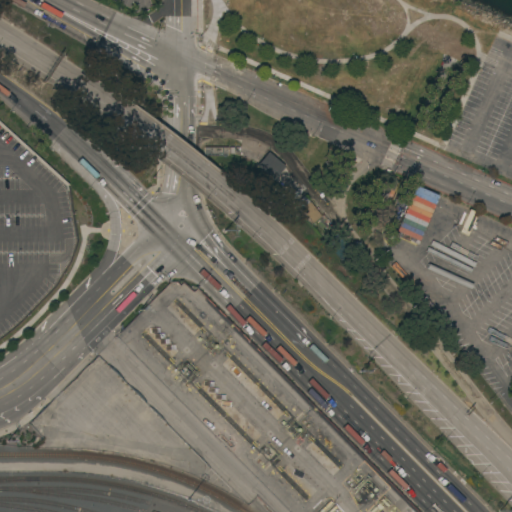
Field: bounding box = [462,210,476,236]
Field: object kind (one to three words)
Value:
vehicle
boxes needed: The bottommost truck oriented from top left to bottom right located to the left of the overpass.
[78,156,107,188]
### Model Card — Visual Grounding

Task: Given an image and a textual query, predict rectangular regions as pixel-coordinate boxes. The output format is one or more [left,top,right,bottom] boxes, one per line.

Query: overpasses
[150,127,225,198]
